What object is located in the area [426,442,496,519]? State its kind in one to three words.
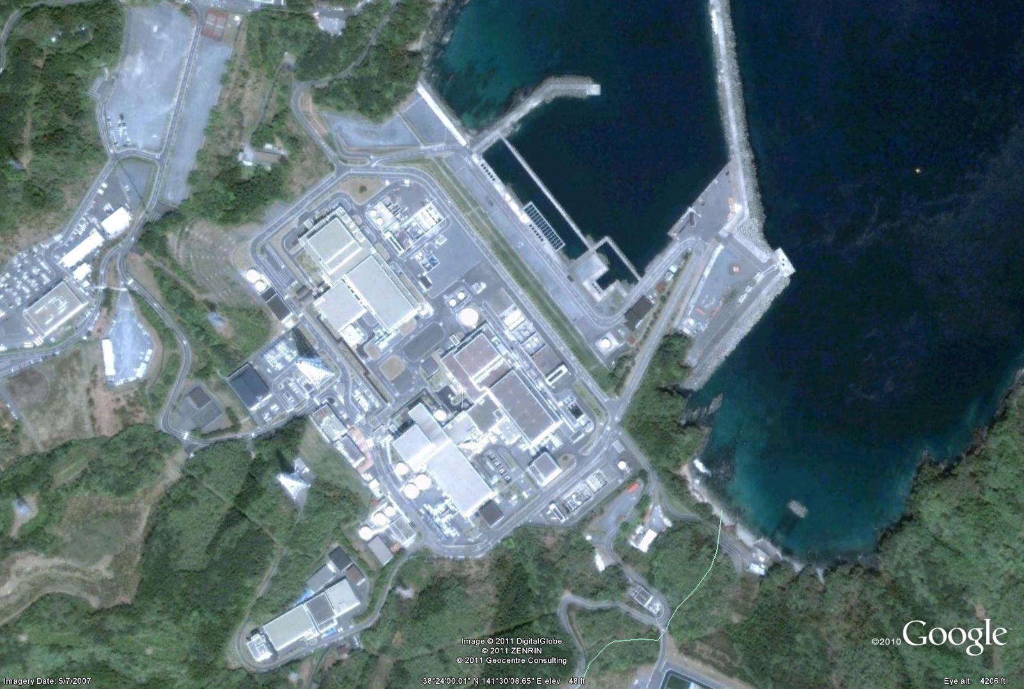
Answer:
building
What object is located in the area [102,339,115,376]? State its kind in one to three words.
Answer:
building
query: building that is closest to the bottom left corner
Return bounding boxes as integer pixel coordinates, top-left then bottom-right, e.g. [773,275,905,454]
[247,634,272,661]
